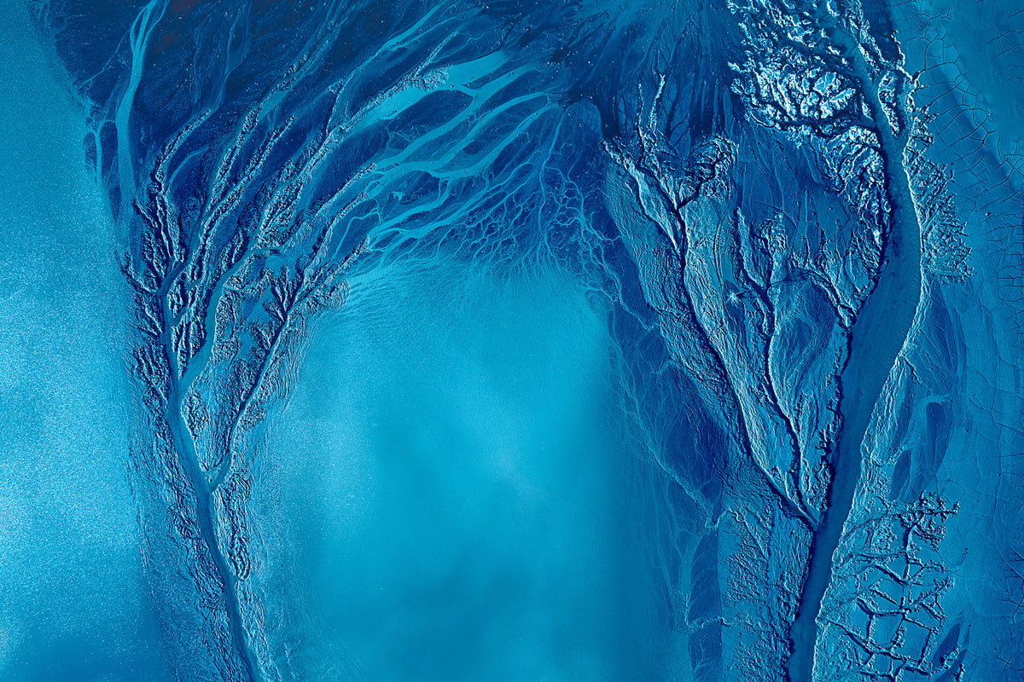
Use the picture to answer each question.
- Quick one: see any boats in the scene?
No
